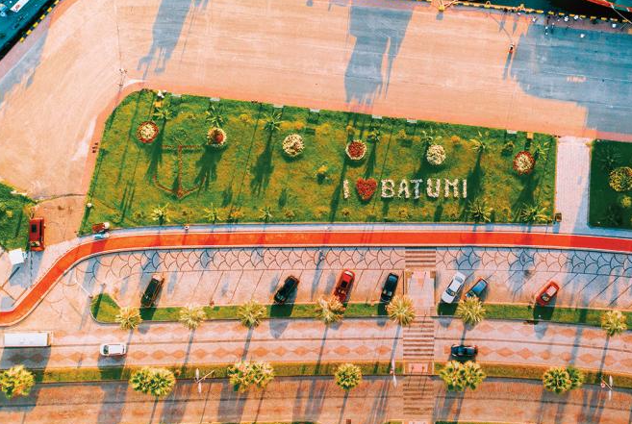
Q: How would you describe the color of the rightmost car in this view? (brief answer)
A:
red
